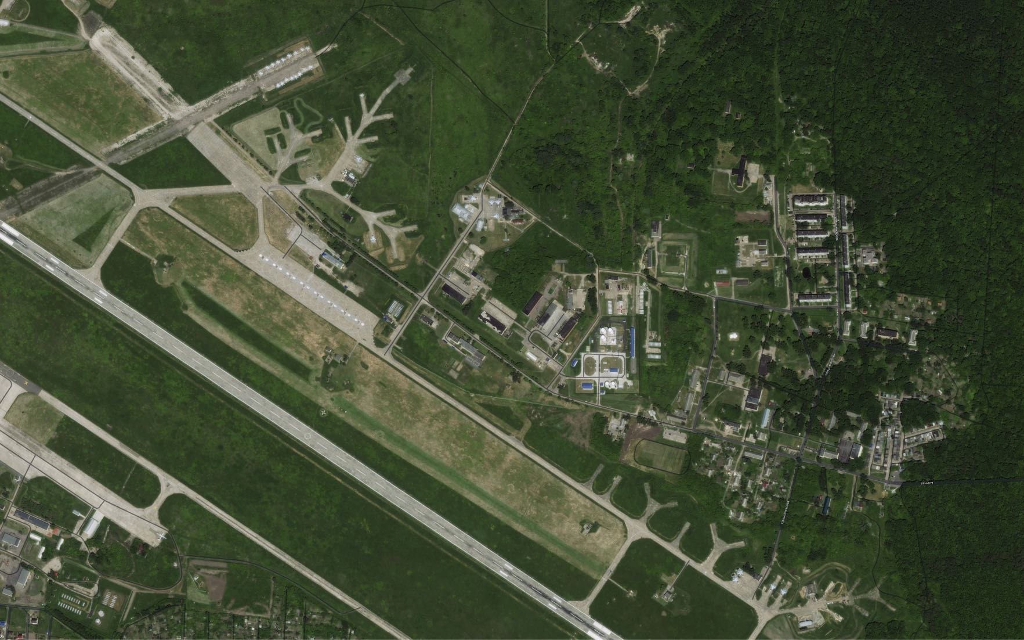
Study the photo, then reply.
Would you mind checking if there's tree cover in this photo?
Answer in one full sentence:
Yes, there's tree cover in this view.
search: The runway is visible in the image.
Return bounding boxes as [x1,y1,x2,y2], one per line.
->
[0,220,623,640]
